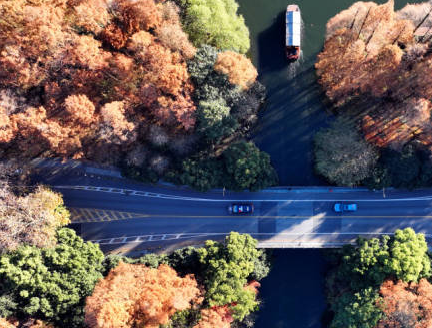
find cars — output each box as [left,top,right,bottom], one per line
[229,203,254,215]
[334,201,357,213]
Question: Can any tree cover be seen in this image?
Yes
